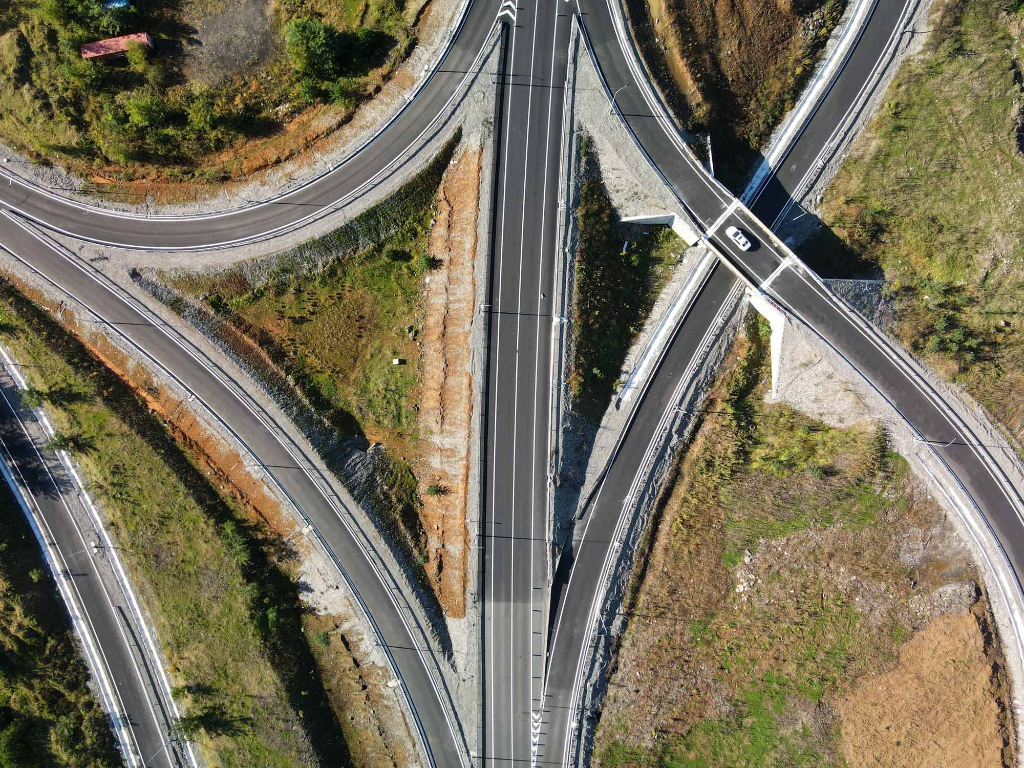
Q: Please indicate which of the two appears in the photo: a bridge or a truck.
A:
bridge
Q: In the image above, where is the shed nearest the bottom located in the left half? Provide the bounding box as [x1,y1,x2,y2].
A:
[81,33,155,64]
